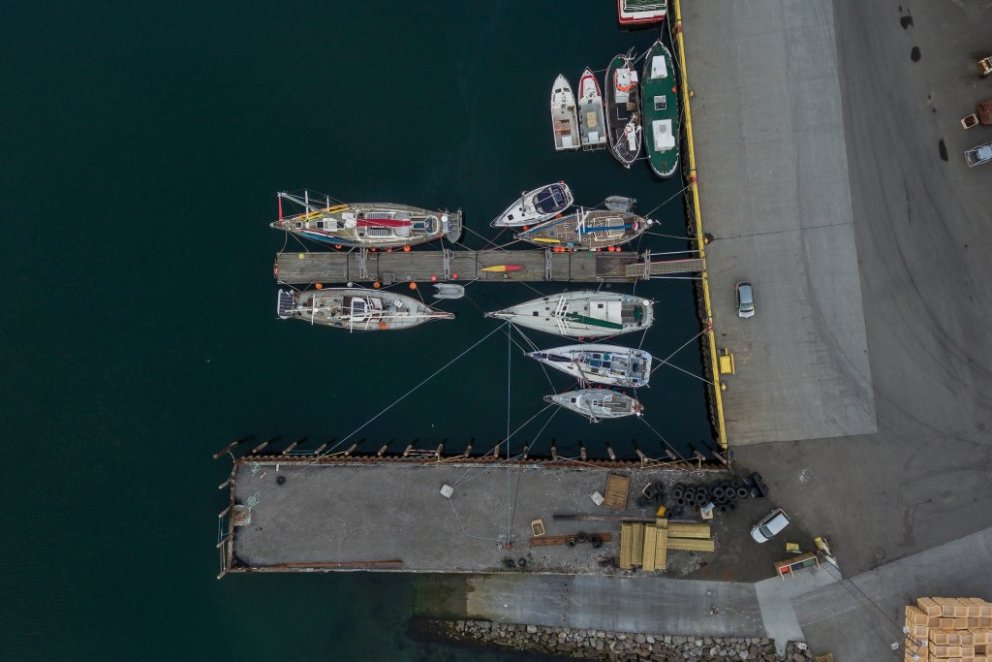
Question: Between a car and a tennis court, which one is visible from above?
car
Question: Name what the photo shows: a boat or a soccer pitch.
boat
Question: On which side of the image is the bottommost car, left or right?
right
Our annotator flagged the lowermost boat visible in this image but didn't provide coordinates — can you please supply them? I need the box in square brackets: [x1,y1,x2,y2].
[548,389,644,424]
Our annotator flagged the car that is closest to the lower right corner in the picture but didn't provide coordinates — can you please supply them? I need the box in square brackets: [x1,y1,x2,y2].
[747,506,792,543]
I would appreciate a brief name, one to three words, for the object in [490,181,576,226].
boat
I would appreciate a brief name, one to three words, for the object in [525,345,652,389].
boat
